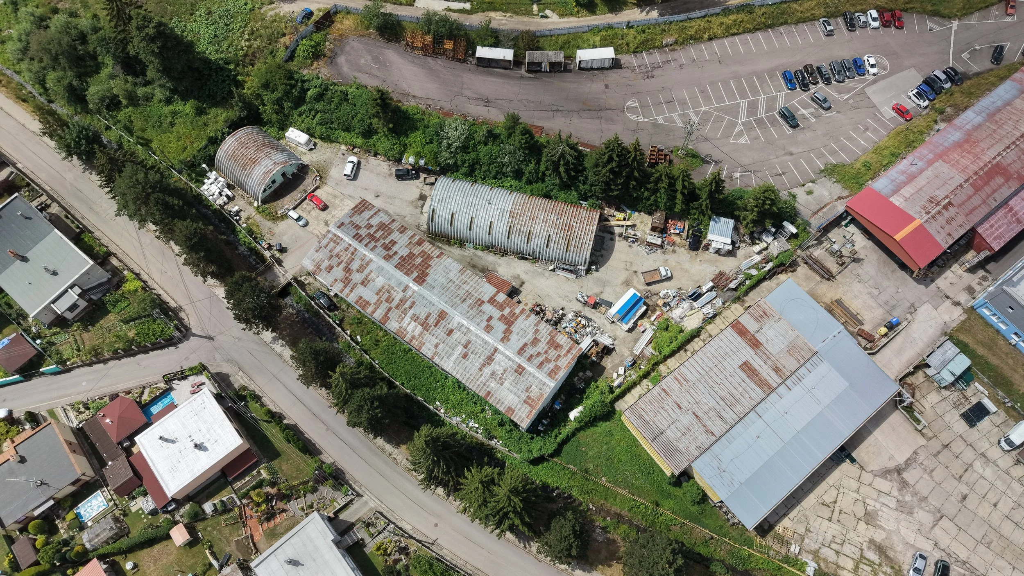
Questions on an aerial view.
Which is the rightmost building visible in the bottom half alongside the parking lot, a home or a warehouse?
warehouse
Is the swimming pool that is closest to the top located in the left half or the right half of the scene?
left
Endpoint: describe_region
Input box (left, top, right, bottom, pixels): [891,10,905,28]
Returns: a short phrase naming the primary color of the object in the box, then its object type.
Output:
red car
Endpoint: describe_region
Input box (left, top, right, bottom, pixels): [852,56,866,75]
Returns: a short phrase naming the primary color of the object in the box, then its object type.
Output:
blue car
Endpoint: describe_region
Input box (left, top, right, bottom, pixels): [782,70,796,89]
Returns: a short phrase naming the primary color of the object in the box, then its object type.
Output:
blue car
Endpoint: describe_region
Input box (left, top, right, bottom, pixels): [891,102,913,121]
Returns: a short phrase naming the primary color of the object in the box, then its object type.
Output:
red car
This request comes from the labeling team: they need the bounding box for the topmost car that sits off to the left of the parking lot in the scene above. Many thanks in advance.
[295,5,314,25]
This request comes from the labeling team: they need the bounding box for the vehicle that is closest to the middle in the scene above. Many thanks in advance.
[578,291,611,310]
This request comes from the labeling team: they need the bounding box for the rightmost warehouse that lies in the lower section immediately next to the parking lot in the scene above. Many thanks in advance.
[618,278,900,531]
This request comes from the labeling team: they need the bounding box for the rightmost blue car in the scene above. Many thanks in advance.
[915,82,937,101]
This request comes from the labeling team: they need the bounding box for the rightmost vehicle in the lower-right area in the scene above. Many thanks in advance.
[997,425,1024,452]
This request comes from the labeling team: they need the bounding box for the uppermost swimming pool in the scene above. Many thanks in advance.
[140,391,177,421]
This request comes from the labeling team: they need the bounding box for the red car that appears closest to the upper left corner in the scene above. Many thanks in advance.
[305,193,326,212]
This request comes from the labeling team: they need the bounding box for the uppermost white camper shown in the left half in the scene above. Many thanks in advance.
[283,125,316,151]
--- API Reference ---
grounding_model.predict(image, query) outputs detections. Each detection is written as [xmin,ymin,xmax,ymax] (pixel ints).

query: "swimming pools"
[74,491,108,523]
[140,391,177,421]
